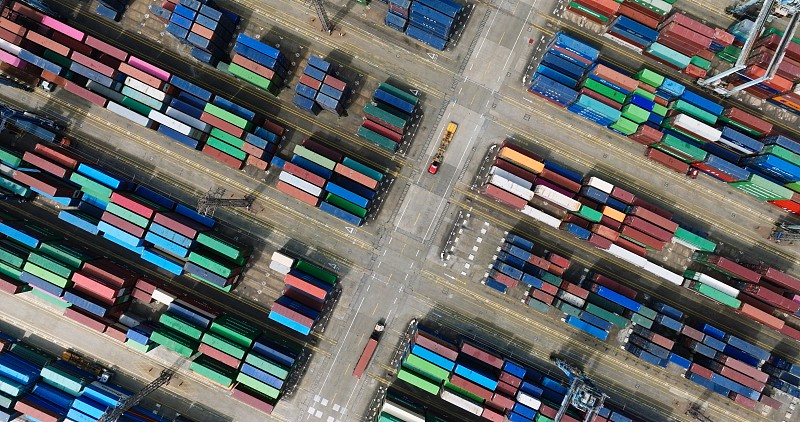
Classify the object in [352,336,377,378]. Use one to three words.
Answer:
shipping container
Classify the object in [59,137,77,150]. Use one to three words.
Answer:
vehicle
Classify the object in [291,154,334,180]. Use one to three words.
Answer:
shipping container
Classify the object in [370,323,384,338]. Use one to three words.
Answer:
vehicle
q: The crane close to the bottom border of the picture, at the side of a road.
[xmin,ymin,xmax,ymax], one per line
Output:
[547,356,609,422]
